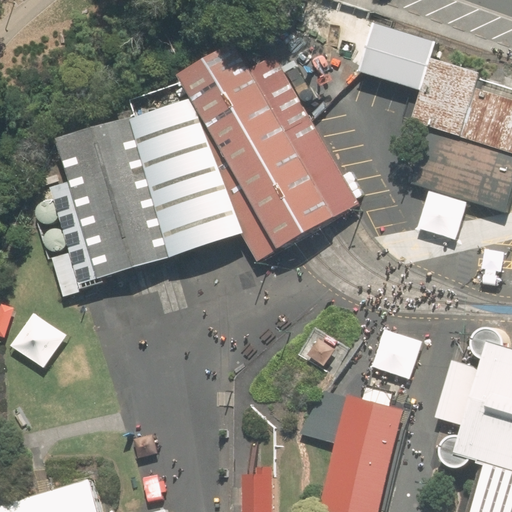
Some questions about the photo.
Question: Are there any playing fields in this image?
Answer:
No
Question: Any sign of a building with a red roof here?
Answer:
Yes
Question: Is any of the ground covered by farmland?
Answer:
No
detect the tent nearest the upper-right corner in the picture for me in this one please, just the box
[418,191,468,240]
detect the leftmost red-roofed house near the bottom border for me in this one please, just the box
[242,467,276,512]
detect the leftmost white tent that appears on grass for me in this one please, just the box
[11,314,70,367]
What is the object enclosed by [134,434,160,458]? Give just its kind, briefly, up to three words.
gazebo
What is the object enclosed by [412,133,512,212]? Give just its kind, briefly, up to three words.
building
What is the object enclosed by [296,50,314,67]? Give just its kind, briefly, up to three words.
work vehicle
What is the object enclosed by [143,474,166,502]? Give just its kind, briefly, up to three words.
tent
